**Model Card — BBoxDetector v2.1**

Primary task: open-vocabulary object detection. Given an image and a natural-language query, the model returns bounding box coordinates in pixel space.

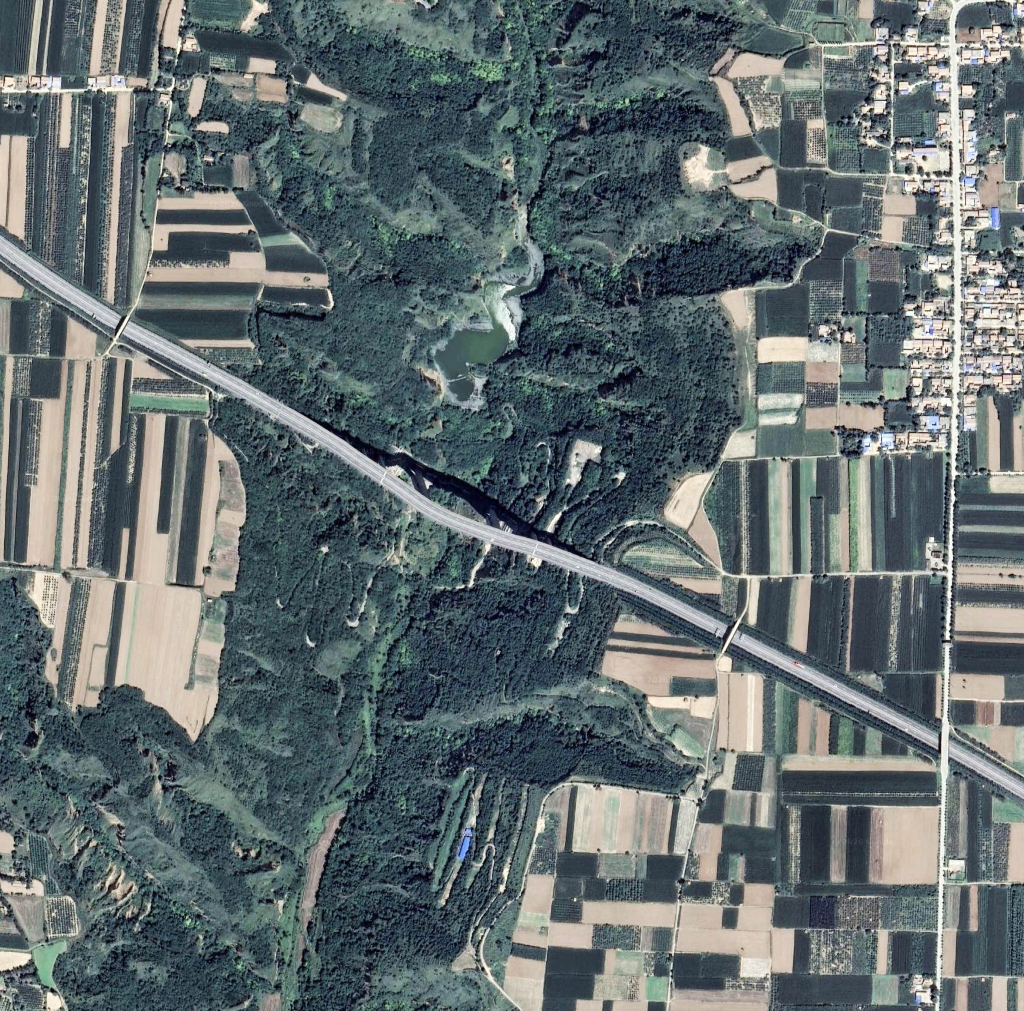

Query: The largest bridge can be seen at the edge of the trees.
[282,415,607,581]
